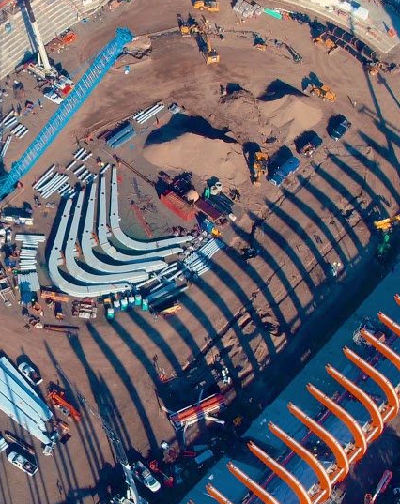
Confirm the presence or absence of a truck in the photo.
Yes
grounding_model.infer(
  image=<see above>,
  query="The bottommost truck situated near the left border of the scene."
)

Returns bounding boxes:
[5,449,38,477]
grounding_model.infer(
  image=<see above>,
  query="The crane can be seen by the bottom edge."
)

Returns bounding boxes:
[54,368,177,504]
